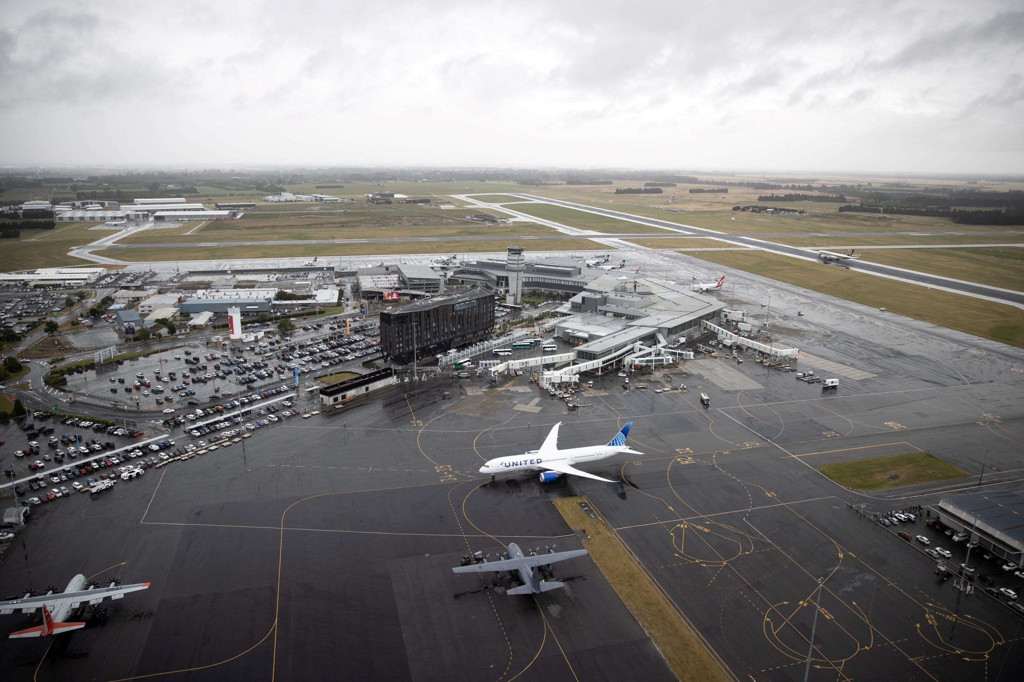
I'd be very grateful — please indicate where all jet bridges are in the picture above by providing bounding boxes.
[650,334,698,363]
[625,350,677,373]
[721,308,771,332]
[701,322,802,359]
[545,341,640,389]
[489,354,576,380]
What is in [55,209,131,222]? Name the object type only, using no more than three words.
hangar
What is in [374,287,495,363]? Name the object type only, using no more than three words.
building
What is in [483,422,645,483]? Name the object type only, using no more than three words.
airplane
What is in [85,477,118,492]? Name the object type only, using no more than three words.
vehicle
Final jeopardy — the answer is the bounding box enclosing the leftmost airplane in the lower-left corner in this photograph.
[0,570,151,636]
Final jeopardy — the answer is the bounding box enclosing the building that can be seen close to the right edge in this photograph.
[921,481,1024,569]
